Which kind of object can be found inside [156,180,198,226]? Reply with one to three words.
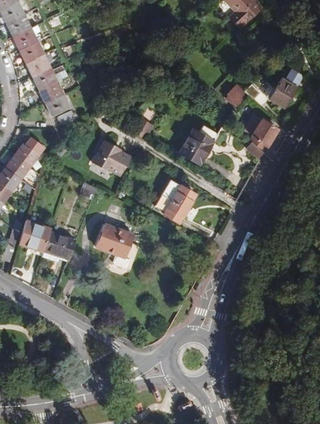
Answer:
house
